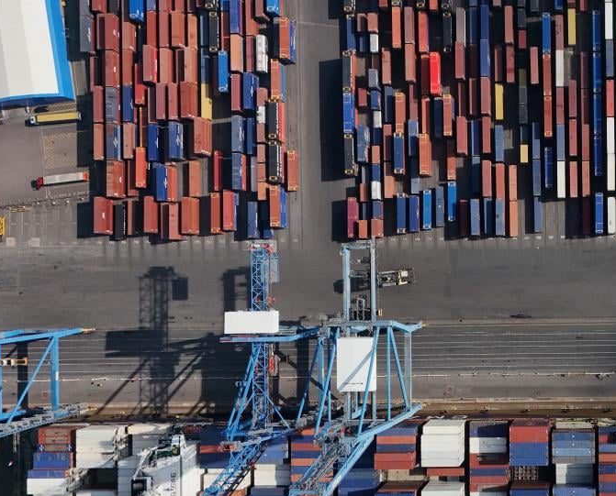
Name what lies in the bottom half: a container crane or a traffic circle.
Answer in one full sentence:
What appears in the bottom half is a container crane.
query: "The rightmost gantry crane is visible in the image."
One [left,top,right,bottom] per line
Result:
[294,237,429,496]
